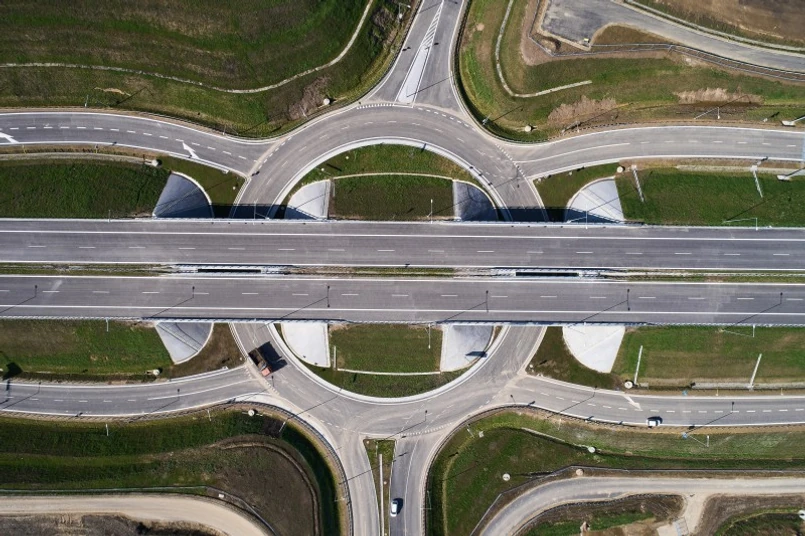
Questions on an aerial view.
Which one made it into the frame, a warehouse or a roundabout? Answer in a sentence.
The image shows a roundabout.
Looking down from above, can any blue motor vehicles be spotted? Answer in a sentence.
No, I can see no blue motor vehicle in this picture.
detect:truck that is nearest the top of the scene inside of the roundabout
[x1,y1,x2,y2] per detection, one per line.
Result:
[248,347,274,377]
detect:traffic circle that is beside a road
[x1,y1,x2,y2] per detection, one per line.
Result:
[219,104,559,436]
